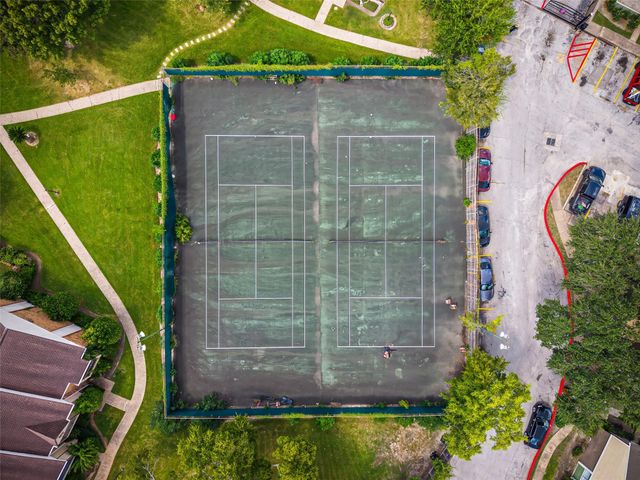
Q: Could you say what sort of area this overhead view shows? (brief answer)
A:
sports ground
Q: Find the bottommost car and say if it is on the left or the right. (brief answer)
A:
right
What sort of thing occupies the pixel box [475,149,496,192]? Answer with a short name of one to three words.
car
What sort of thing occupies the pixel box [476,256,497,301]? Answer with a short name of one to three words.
car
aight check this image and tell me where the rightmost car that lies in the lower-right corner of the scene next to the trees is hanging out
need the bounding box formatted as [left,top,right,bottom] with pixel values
[522,401,554,449]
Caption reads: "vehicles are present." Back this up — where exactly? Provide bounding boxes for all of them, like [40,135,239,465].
[476,256,497,301]
[522,401,554,449]
[473,204,494,248]
[475,149,496,192]
[622,65,640,109]
[566,167,608,214]
[473,109,494,140]
[620,192,640,214]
